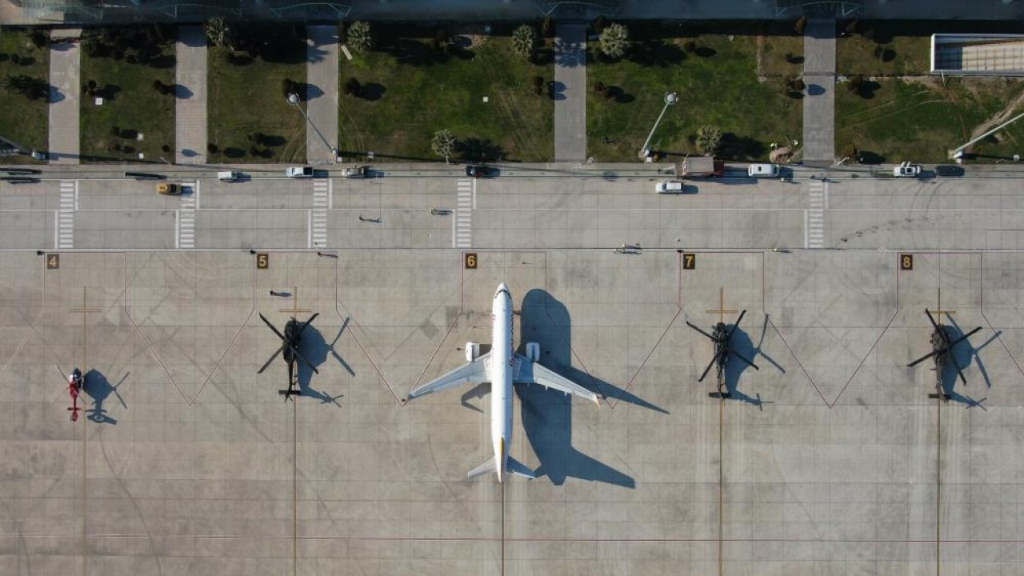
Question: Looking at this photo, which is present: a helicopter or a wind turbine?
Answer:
helicopter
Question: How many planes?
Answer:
1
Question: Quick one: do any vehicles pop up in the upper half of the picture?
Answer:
Yes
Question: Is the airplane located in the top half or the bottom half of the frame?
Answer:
bottom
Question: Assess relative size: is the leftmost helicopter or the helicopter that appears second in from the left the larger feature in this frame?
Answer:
the helicopter that appears second in from the left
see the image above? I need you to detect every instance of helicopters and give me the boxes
[906,308,982,406]
[259,313,321,404]
[687,312,757,405]
[54,364,93,422]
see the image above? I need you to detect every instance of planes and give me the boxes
[406,283,599,484]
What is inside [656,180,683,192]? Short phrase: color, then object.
white vehicle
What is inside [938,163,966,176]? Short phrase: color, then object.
black vehicle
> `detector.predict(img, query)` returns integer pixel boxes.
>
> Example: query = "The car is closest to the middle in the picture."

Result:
[466,164,488,176]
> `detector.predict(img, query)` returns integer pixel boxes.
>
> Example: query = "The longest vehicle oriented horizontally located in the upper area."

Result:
[673,156,722,178]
